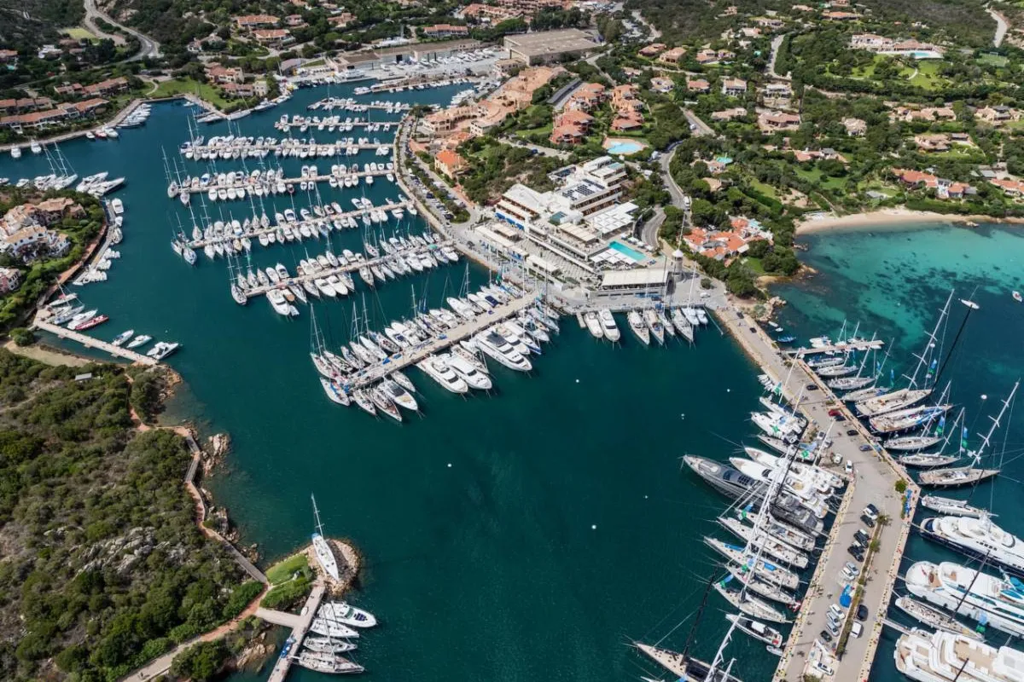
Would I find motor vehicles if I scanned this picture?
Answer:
Yes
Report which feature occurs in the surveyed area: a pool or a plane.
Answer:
pool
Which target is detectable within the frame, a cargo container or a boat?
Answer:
boat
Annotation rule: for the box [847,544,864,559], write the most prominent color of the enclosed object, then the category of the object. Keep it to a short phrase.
black car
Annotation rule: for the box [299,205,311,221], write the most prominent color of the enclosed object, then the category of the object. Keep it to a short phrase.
white boat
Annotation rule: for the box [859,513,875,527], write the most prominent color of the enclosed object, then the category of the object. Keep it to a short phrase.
black car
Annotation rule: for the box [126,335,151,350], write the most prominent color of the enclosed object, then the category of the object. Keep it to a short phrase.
white boat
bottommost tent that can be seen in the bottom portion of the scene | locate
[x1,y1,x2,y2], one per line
[838,574,860,603]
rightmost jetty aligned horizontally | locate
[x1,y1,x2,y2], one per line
[781,342,884,354]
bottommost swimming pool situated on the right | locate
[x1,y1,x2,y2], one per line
[607,239,649,263]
